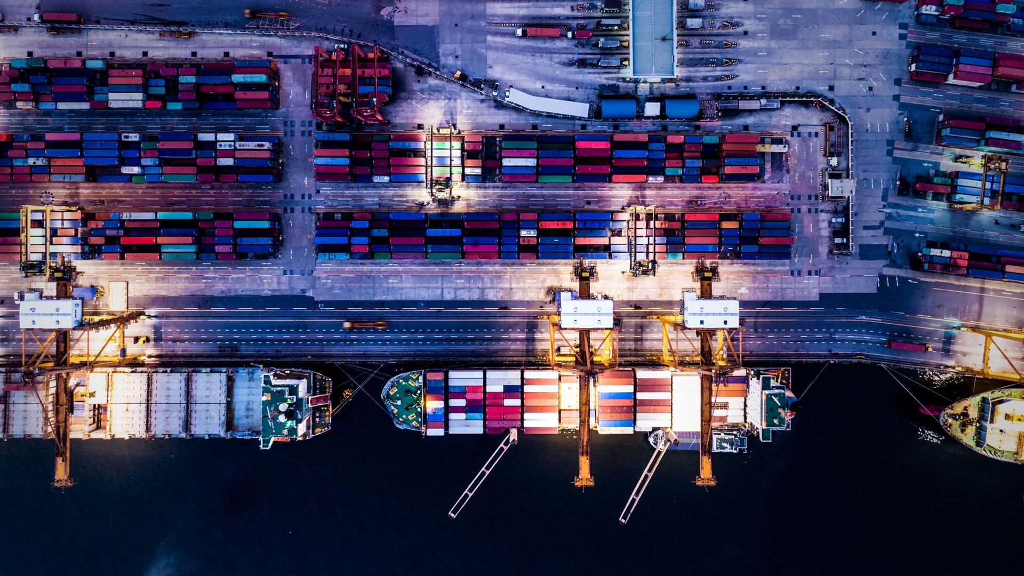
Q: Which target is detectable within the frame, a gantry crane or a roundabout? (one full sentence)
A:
This aerial view contains a gantry crane.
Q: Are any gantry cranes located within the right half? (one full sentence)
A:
Yes, the scene does show a gantry crane within the right half.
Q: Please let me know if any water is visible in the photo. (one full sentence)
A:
Yes, some water is visible.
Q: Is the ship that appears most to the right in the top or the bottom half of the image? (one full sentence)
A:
The bottom half of the photo is where the ship that appears most to the right is.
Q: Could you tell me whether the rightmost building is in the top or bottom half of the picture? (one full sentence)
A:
The rightmost building is in the top half of the image.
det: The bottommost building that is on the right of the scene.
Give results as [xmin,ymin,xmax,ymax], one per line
[826,171,854,201]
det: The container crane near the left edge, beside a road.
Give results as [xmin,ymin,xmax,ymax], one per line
[26,252,157,495]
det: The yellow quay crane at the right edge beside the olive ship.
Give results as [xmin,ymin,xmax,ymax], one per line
[951,325,1024,391]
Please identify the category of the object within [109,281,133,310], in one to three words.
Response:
shed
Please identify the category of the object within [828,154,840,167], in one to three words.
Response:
vehicle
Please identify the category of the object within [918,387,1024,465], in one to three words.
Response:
ship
